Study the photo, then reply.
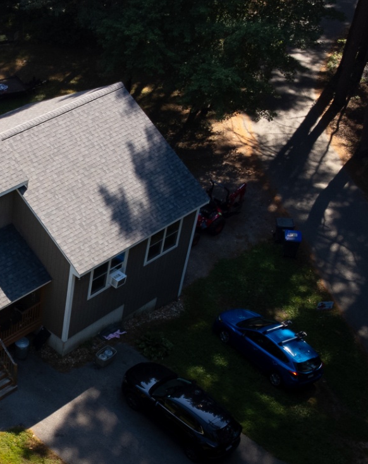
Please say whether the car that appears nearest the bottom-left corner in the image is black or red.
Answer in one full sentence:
The car that appears nearest the bottom-left corner looks black in the image.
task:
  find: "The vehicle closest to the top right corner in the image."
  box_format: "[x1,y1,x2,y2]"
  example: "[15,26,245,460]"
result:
[183,176,231,265]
